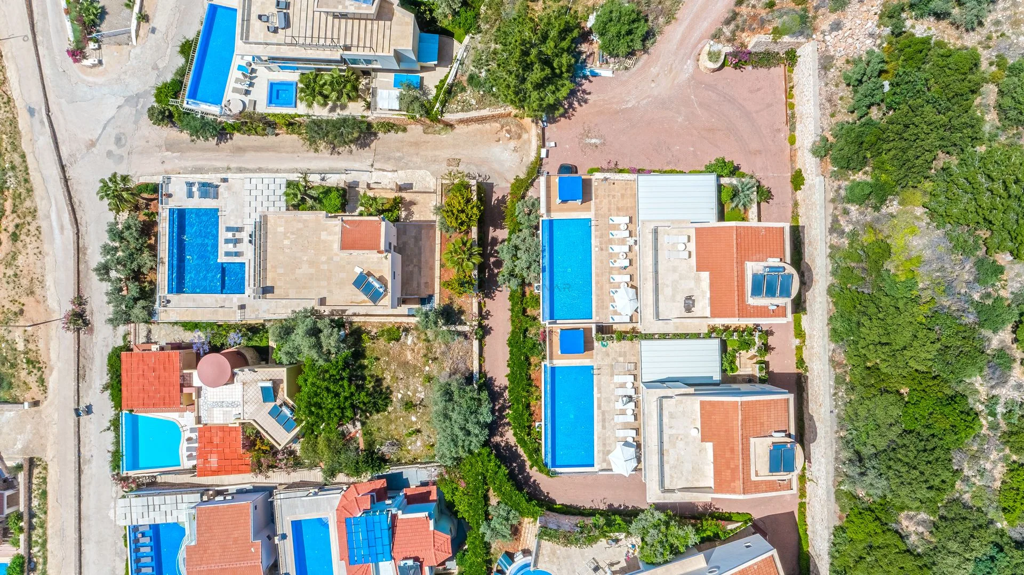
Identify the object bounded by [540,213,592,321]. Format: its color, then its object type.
blue swimming pool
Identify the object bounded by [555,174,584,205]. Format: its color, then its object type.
blue gazebo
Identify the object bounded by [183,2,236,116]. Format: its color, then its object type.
blue swimming pool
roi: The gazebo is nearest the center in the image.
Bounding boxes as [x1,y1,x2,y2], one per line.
[558,327,587,356]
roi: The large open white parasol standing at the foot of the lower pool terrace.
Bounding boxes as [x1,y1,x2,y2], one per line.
[613,450,644,479]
